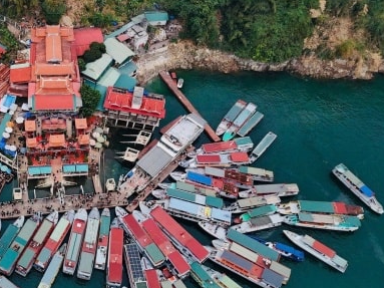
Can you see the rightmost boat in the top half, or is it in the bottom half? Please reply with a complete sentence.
You can find the rightmost boat in the bottom half.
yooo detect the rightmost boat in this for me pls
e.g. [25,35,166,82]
[330,165,384,211]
